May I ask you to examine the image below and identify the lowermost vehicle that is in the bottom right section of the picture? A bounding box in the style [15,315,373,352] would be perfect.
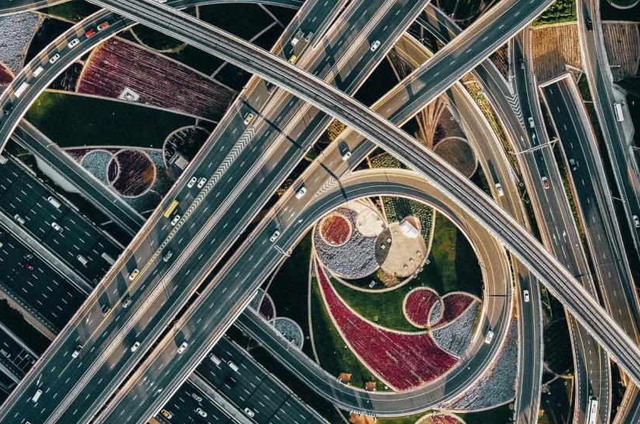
[587,398,602,424]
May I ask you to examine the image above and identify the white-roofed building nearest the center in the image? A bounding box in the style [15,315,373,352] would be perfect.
[399,217,426,243]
